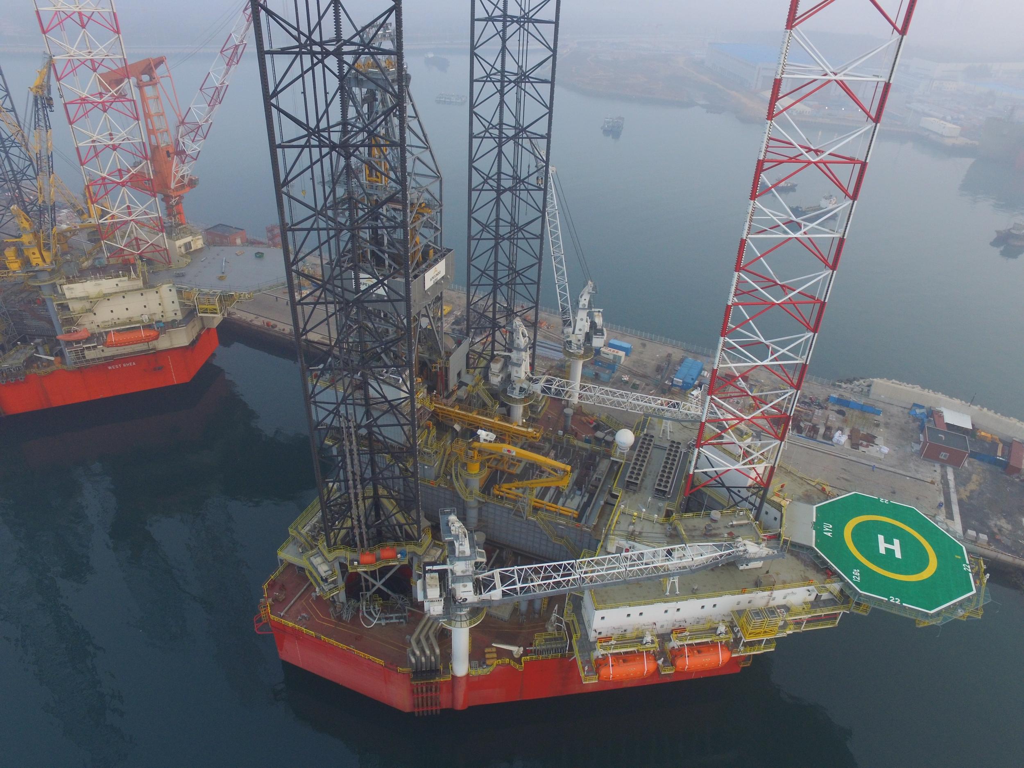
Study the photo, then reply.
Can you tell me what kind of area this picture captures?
port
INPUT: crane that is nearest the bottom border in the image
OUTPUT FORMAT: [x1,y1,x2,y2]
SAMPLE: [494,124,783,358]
[408,512,794,686]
